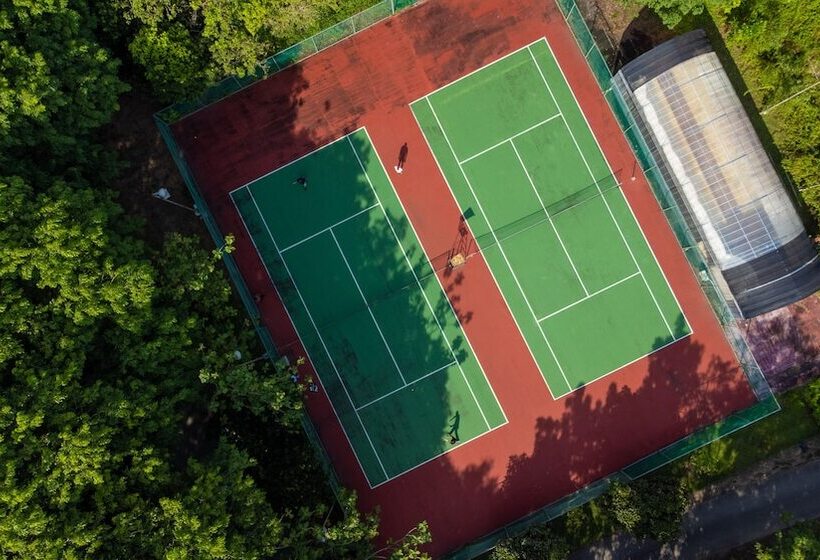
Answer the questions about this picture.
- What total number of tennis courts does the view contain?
2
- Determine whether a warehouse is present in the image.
No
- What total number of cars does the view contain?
zero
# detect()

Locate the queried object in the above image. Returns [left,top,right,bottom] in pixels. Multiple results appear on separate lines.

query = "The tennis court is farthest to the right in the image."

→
[408,36,693,400]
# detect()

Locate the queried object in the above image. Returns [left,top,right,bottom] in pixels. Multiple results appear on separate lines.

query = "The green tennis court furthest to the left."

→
[229,126,509,489]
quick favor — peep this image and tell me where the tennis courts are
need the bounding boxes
[408,36,693,400]
[229,126,509,489]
